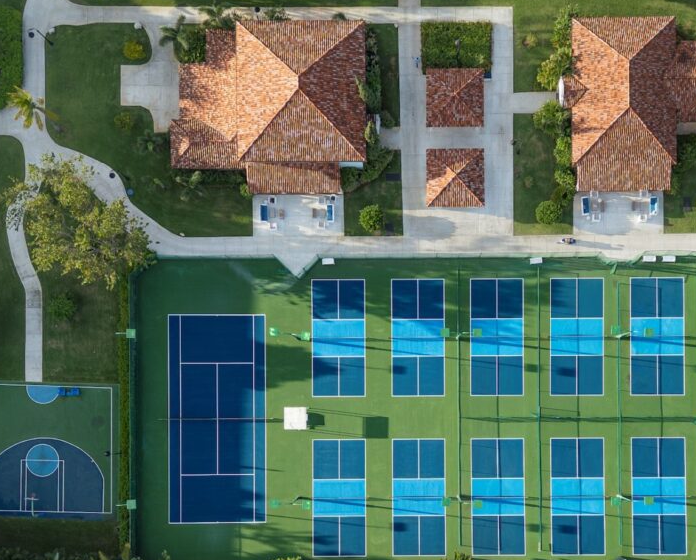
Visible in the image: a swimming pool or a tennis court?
tennis court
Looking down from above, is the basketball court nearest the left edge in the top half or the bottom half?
bottom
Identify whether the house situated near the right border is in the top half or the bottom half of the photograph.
top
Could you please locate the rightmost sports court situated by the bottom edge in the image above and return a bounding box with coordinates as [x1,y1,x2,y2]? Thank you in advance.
[629,437,693,556]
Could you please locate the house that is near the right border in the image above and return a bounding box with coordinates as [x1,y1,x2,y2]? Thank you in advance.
[557,15,696,192]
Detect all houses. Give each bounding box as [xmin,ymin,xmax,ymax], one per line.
[170,19,380,195]
[557,15,696,192]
